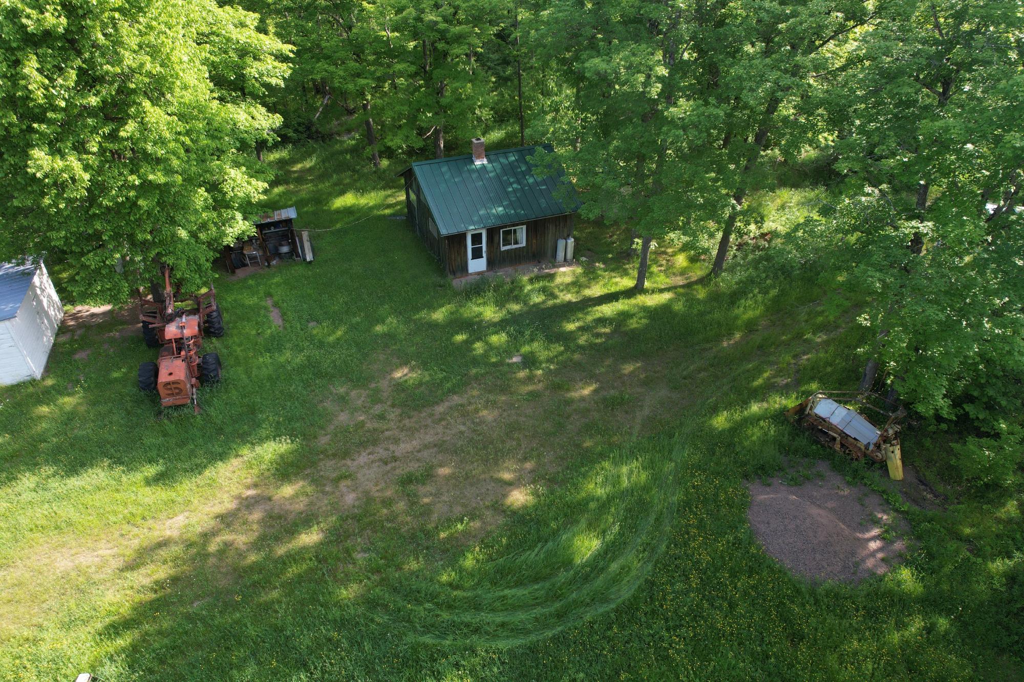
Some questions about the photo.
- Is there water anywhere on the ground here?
No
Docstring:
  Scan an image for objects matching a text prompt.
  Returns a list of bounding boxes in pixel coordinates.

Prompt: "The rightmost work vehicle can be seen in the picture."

[783,393,907,487]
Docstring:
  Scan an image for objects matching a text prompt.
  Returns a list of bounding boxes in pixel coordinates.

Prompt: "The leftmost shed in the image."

[0,248,65,376]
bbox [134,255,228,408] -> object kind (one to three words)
work vehicle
